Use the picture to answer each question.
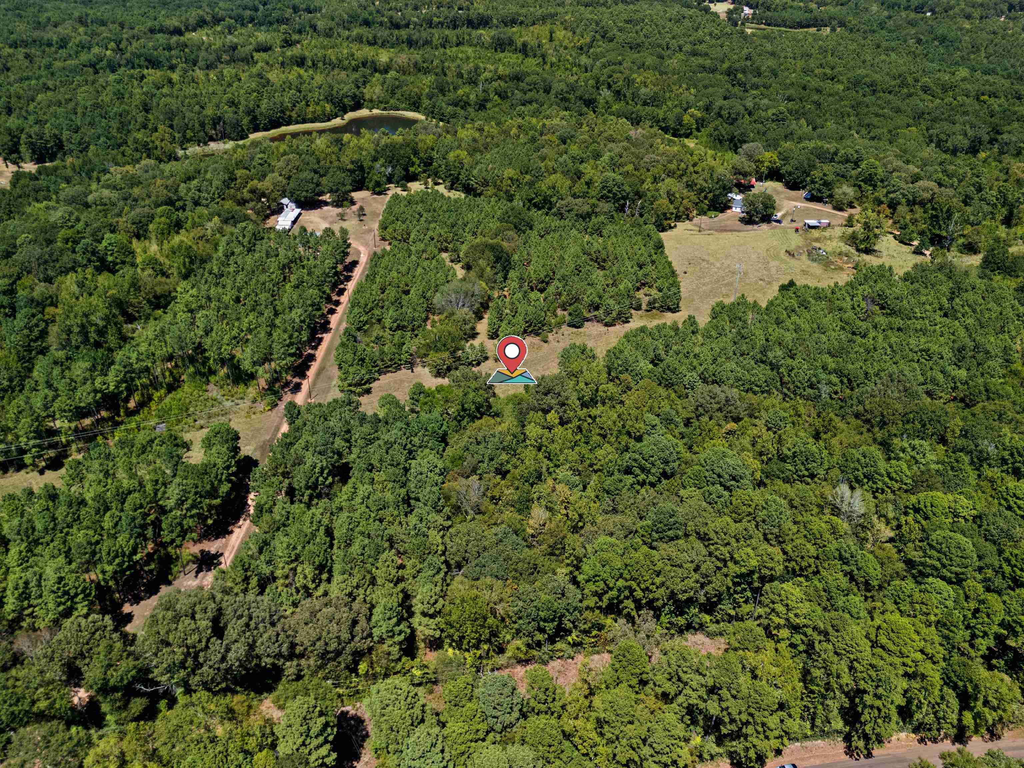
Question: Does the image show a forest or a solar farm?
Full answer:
The picture captures a forest.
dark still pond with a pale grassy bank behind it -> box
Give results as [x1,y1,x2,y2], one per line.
[260,115,425,147]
